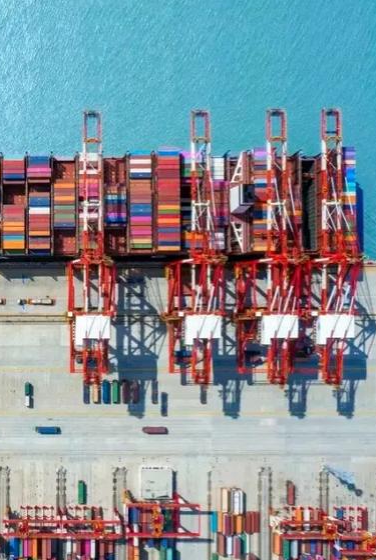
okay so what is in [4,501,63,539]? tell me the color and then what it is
red container crane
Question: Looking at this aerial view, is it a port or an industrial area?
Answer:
port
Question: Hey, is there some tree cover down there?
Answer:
No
